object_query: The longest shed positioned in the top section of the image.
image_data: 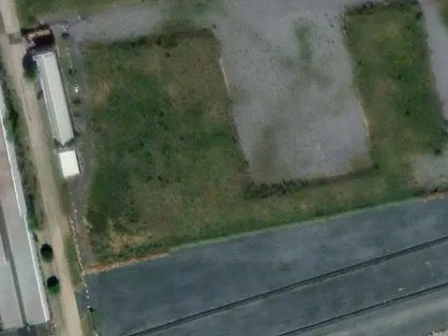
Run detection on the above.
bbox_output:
[33,52,74,144]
